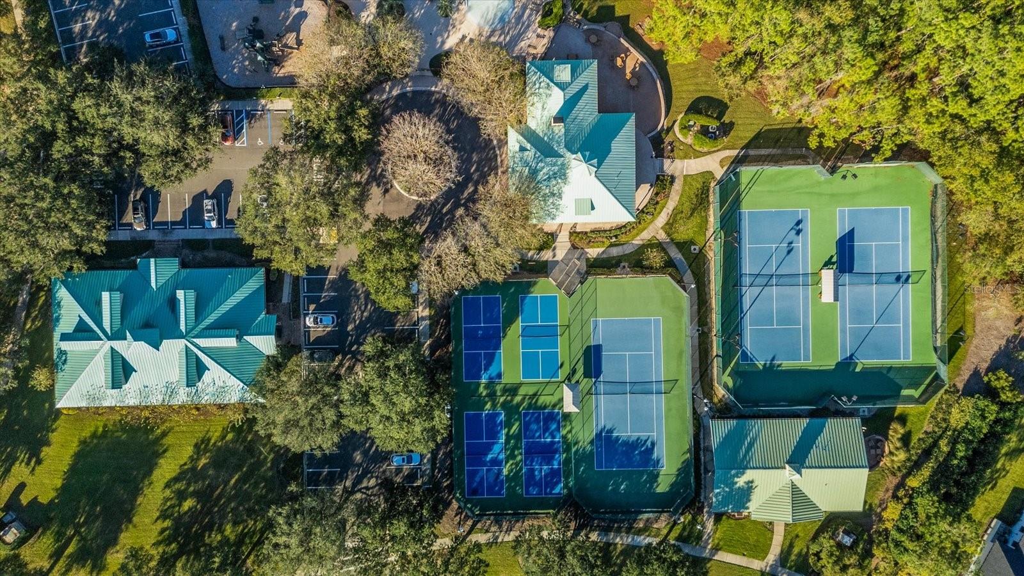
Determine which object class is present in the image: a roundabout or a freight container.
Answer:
roundabout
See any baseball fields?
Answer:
No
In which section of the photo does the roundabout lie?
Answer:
top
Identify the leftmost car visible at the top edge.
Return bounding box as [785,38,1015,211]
[143,27,179,46]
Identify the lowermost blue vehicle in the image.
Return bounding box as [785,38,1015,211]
[389,452,421,467]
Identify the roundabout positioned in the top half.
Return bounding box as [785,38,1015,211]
[350,69,506,230]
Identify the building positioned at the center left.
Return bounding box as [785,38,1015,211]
[52,256,283,409]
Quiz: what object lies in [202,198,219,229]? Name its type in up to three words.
car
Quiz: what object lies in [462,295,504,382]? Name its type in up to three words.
sports court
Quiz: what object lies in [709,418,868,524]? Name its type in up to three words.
building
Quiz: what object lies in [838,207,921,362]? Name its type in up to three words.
tennis court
